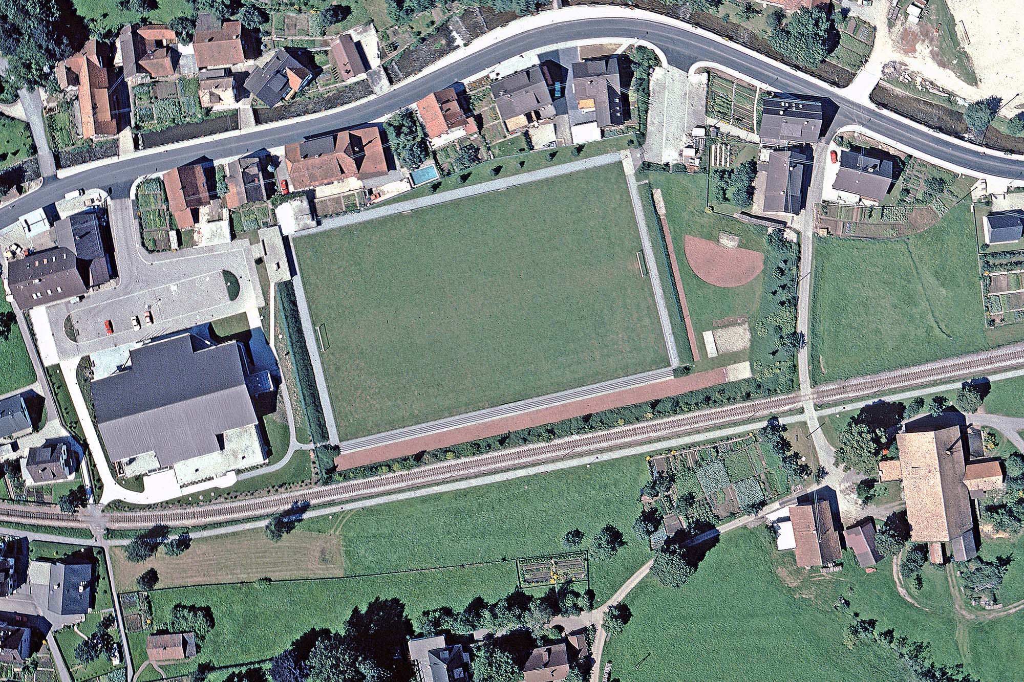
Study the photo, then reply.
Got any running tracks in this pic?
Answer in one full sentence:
Yes, I can see a running track in this picture.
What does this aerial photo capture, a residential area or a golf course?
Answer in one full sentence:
This looks like a residential area.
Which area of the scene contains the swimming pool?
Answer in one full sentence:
You can find the swimming pool in the top area of the picture.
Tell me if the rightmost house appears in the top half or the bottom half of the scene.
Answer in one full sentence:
The top half of the photo is where the rightmost house is.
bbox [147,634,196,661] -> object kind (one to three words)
shed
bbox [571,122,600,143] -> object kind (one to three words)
building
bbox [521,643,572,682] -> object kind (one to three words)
house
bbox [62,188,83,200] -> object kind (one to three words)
vehicle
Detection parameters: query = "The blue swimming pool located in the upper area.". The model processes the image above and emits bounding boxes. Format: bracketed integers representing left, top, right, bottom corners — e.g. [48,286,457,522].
[410,164,439,185]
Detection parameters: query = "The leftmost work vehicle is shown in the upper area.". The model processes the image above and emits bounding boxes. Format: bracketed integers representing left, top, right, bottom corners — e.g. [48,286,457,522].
[7,240,24,254]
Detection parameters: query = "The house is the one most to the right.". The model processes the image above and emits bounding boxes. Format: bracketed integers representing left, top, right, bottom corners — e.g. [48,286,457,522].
[984,212,1023,243]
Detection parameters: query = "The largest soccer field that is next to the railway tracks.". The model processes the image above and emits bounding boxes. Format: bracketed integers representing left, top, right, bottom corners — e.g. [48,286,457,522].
[285,154,678,445]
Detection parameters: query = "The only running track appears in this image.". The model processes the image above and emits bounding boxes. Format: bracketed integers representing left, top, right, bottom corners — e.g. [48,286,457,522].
[335,369,727,471]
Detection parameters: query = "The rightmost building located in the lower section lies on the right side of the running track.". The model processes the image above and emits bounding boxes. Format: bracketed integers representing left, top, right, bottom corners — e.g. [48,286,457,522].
[878,425,1003,563]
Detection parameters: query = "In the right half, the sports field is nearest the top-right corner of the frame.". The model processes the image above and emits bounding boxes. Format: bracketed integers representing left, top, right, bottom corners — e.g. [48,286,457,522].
[684,233,764,286]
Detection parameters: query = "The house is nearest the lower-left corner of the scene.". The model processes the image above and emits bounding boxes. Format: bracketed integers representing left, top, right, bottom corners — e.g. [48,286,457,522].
[0,625,29,664]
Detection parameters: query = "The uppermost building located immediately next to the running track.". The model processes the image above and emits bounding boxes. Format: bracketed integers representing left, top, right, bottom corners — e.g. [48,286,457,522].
[90,334,274,484]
